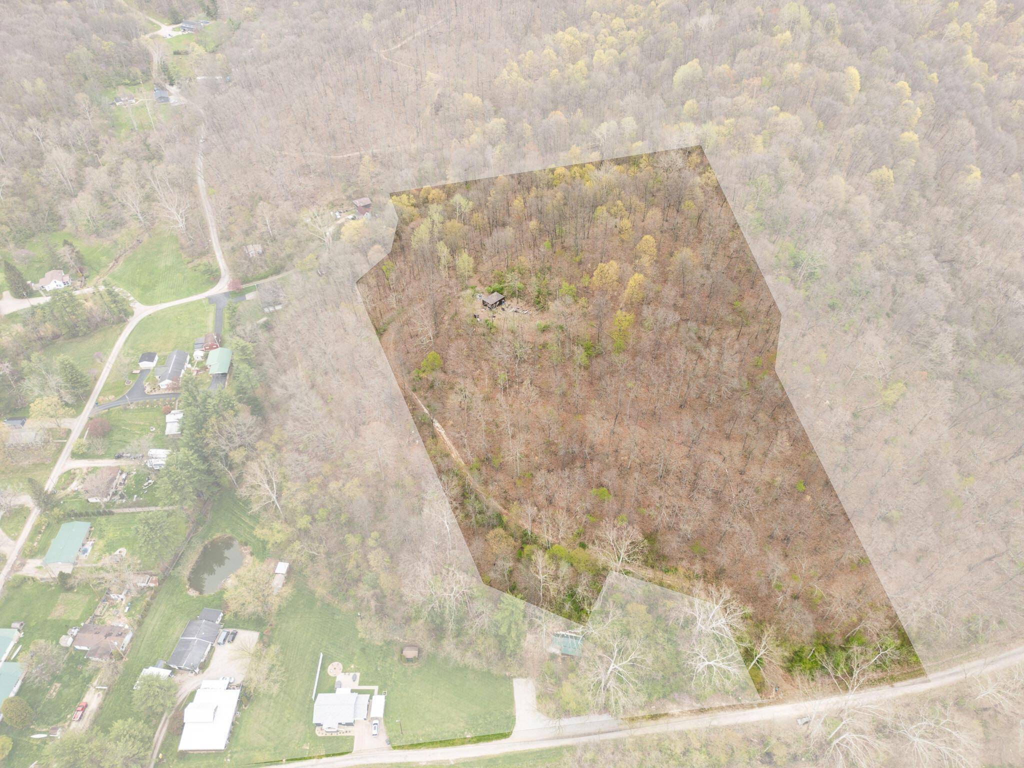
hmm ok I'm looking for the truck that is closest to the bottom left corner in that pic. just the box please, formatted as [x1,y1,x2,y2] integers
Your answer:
[67,698,89,722]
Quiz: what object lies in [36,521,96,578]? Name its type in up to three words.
house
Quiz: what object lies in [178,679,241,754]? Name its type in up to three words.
barn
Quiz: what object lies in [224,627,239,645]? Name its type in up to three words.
car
